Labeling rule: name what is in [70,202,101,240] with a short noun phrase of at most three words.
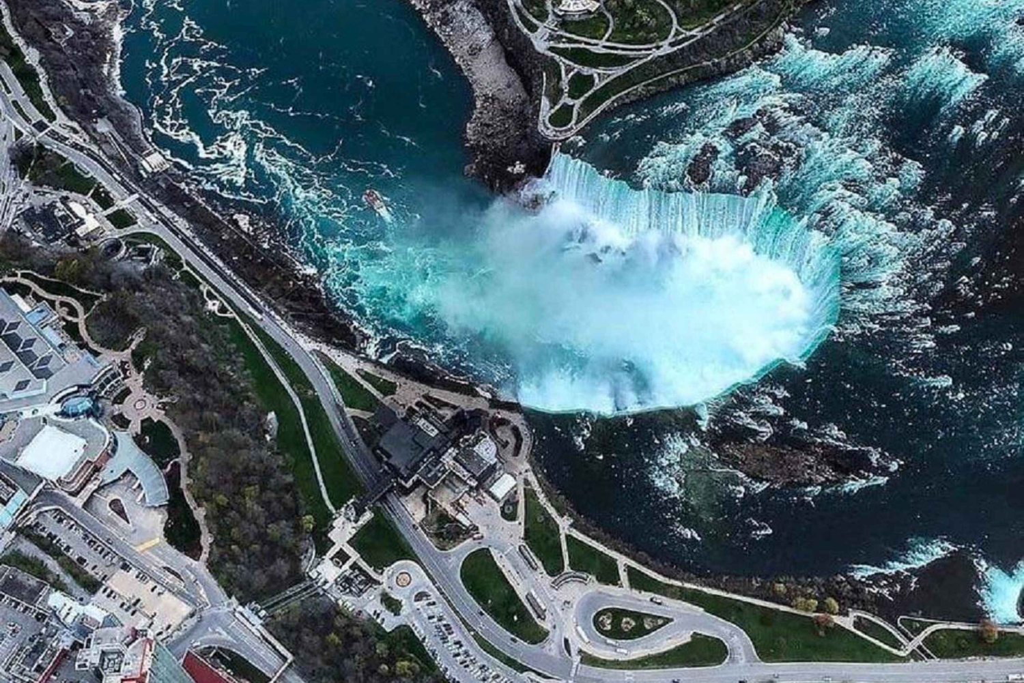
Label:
building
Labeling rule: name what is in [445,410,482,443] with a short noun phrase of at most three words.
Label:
building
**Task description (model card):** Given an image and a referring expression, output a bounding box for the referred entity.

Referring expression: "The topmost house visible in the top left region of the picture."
[144,152,174,170]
